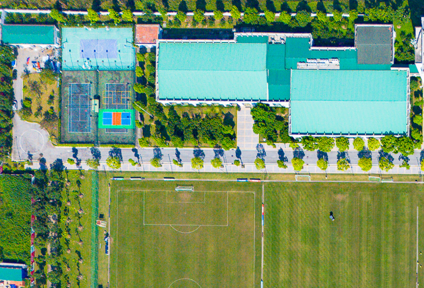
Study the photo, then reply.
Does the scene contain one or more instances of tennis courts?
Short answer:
Yes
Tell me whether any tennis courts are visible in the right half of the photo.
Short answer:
No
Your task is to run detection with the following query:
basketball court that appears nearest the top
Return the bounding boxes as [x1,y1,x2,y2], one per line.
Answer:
[61,27,135,70]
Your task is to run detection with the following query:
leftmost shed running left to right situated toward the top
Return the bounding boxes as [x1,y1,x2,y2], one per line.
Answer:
[3,26,60,49]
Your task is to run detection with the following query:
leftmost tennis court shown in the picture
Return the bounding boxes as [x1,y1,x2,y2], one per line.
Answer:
[61,70,97,144]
